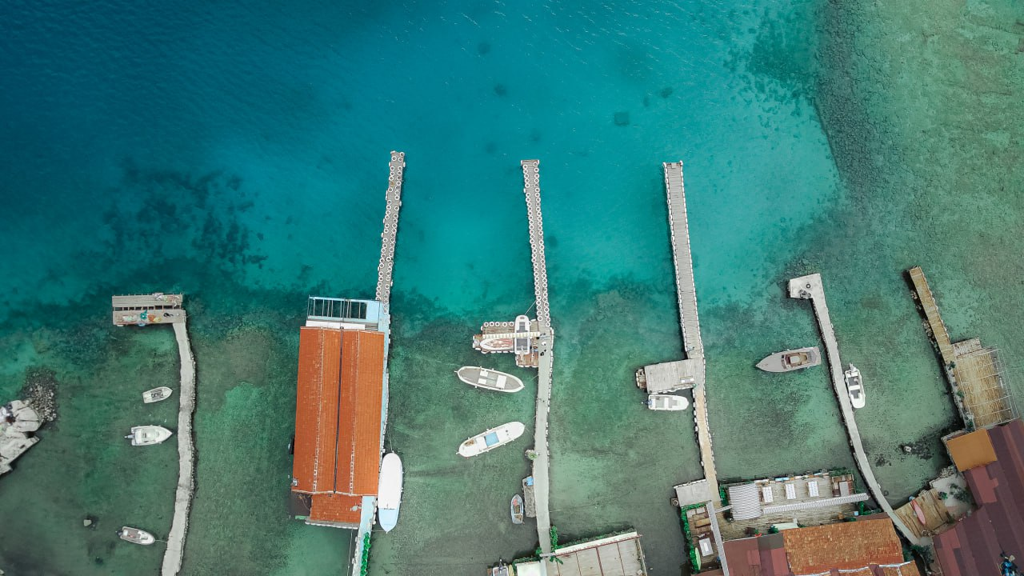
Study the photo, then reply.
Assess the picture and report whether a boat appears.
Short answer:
Yes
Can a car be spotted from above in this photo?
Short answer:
No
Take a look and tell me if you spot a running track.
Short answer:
No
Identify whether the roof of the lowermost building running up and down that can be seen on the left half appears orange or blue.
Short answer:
orange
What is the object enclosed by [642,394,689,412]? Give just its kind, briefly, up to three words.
boat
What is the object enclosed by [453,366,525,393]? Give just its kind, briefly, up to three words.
boat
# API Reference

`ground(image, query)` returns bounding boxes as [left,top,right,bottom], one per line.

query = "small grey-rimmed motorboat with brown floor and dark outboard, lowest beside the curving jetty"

[116,524,156,545]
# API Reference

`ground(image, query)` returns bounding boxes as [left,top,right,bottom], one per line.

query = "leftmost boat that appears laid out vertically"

[376,453,405,533]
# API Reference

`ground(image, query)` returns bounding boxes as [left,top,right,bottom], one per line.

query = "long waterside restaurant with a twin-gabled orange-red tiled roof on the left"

[291,327,386,528]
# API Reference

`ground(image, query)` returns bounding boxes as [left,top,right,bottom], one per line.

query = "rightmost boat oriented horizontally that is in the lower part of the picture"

[755,344,823,371]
